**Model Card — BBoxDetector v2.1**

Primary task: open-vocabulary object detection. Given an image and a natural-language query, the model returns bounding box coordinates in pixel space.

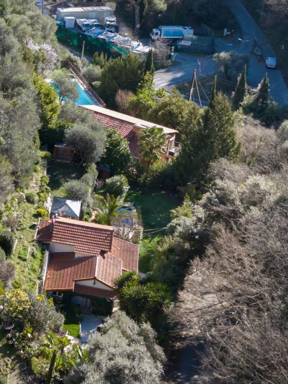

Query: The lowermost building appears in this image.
[35,214,142,308]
